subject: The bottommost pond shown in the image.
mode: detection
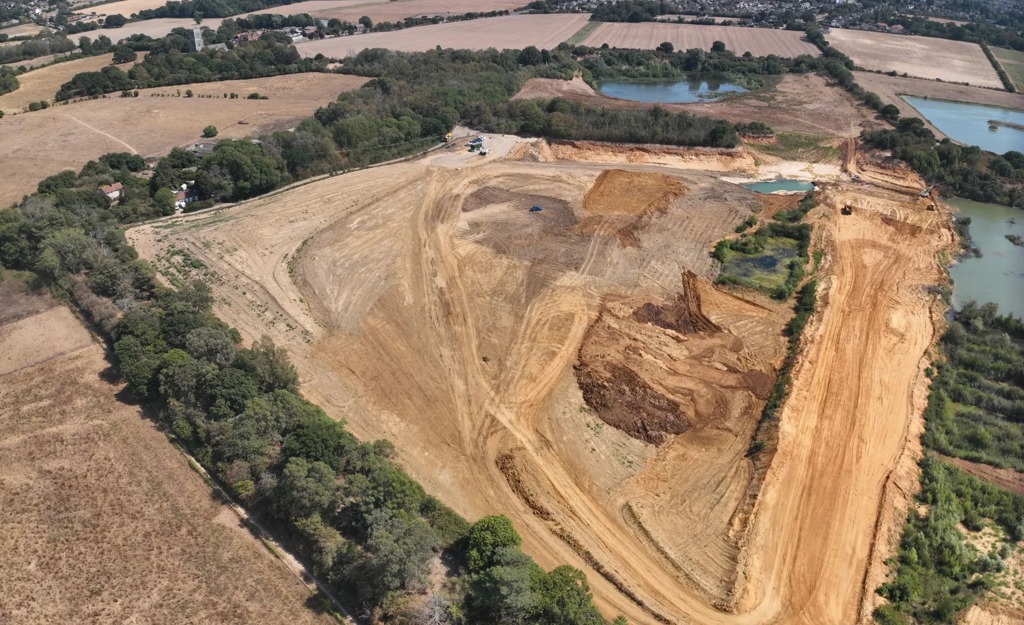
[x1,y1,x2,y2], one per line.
[723,241,800,290]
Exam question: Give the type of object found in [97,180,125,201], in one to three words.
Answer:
house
